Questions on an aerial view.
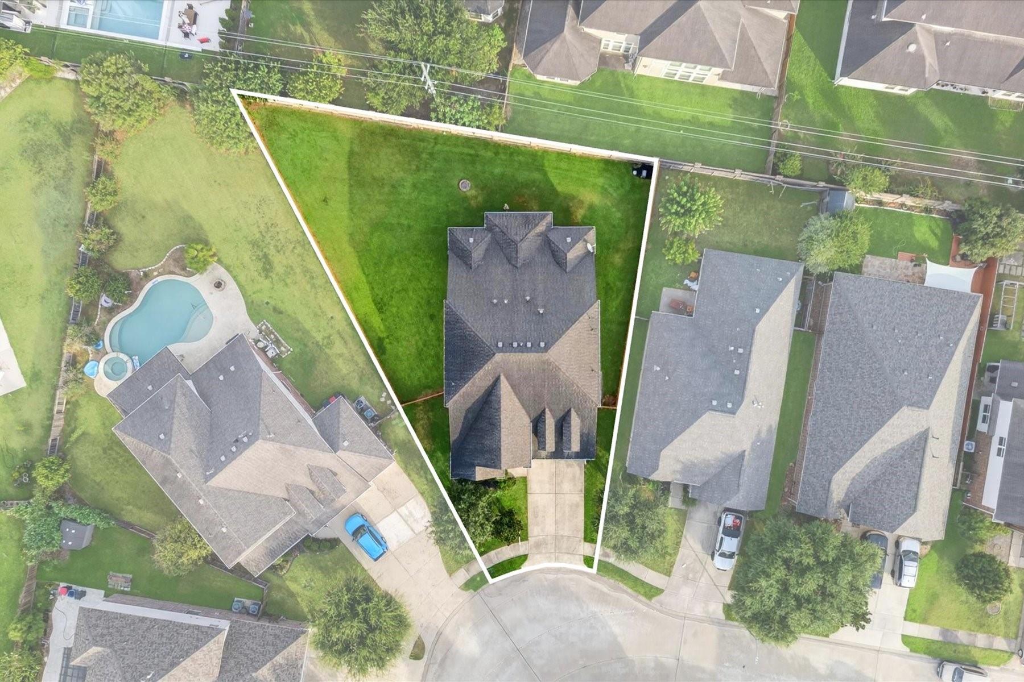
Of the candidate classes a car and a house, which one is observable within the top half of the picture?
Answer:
house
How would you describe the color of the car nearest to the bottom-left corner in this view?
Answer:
blue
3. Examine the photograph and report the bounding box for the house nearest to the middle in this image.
[442,211,602,481]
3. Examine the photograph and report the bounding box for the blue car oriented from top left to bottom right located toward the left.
[346,510,388,563]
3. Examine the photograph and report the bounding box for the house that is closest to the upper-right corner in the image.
[829,0,1024,105]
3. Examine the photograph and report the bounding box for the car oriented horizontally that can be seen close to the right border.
[933,656,993,682]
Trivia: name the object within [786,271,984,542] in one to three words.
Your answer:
house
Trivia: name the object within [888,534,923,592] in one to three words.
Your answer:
car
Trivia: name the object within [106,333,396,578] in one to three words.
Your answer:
house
